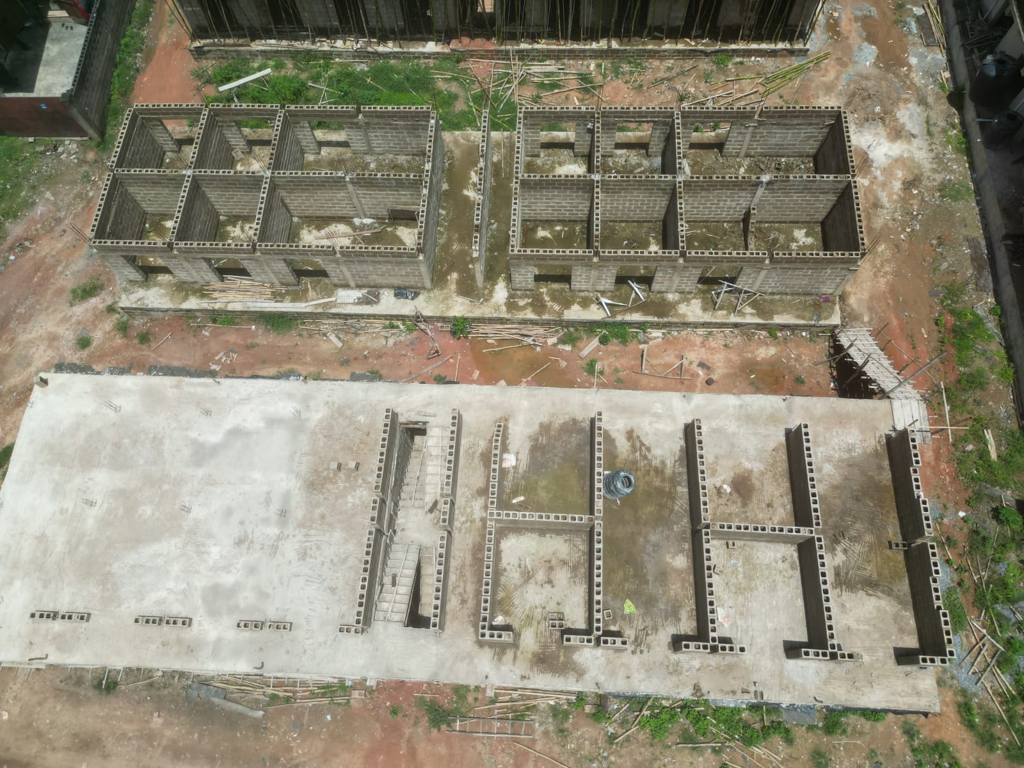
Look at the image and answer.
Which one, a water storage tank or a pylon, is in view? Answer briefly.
water storage tank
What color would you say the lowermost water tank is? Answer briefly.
black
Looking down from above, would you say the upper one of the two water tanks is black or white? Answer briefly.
black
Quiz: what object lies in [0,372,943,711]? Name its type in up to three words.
building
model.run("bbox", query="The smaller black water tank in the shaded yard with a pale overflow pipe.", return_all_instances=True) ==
[982,113,1024,153]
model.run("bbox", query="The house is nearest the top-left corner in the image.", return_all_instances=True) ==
[0,0,97,142]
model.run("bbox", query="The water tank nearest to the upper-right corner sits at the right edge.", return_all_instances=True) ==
[972,58,1023,110]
